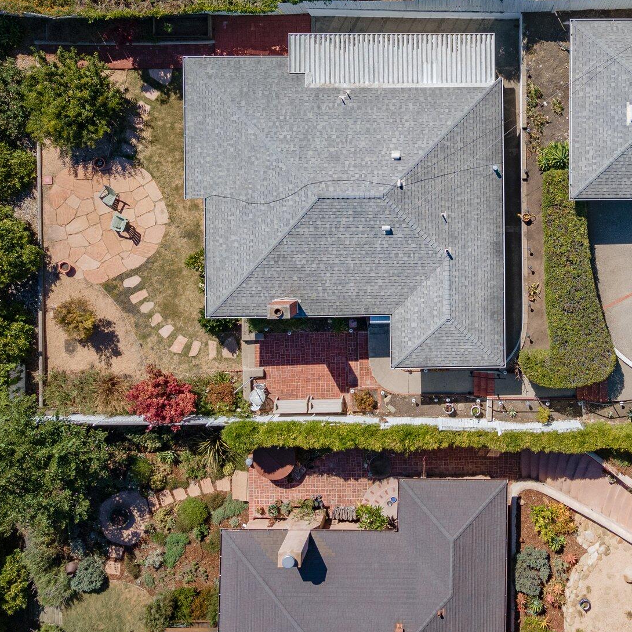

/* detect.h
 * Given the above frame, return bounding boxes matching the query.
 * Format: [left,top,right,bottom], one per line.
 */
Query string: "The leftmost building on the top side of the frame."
[180,32,508,371]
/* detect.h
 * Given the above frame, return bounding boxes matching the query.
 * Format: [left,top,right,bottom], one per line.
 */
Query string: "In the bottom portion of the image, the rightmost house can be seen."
[216,474,511,632]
